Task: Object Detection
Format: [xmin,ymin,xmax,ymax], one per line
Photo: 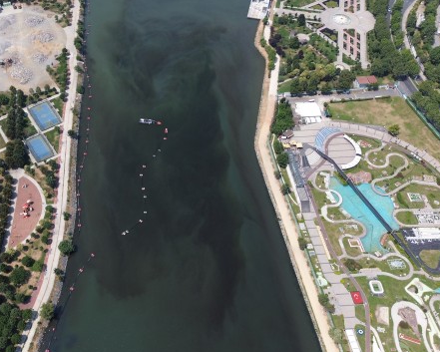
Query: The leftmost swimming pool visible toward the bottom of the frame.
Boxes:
[329,181,400,254]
